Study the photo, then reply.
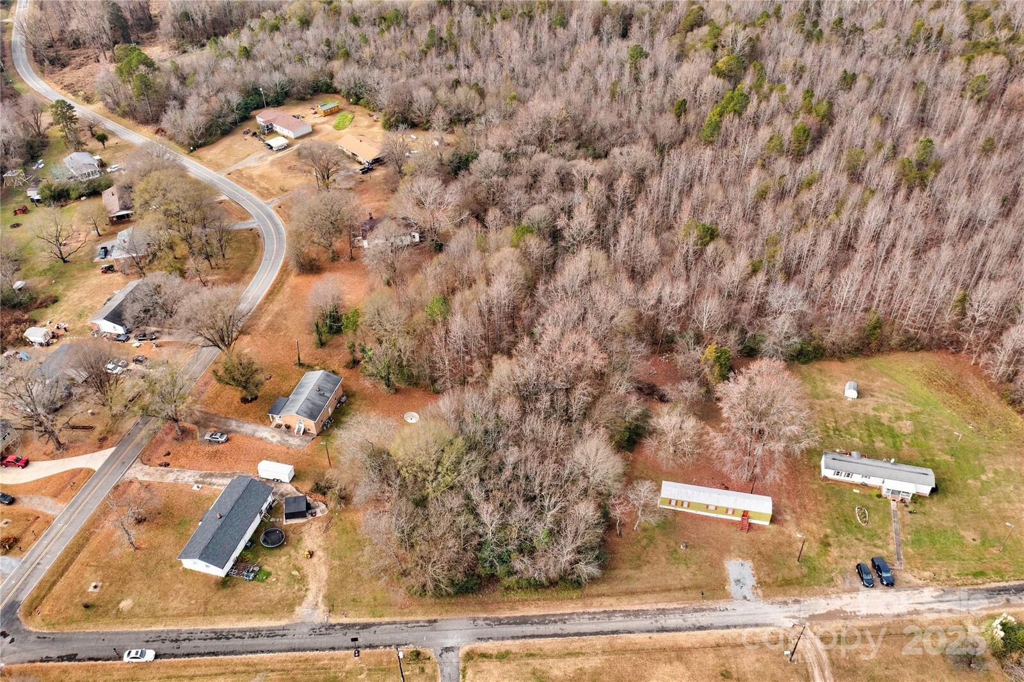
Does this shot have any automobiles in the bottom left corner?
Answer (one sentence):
Yes, in the bottom left corner there is an automobile.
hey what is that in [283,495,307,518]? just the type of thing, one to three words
shed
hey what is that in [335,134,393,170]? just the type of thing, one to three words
house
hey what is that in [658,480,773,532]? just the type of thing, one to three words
house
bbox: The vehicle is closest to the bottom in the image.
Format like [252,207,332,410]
[121,648,155,664]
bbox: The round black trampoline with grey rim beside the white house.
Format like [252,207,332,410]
[259,529,284,548]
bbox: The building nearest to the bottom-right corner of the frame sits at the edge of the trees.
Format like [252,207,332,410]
[820,450,934,503]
